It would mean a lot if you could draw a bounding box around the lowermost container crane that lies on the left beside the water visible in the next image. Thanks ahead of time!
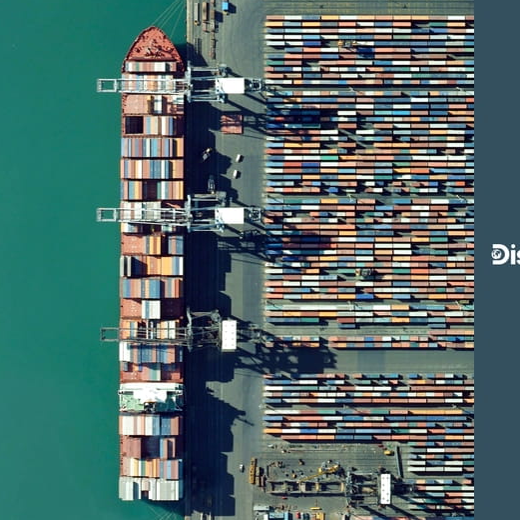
[102,302,258,355]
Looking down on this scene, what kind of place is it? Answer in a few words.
port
